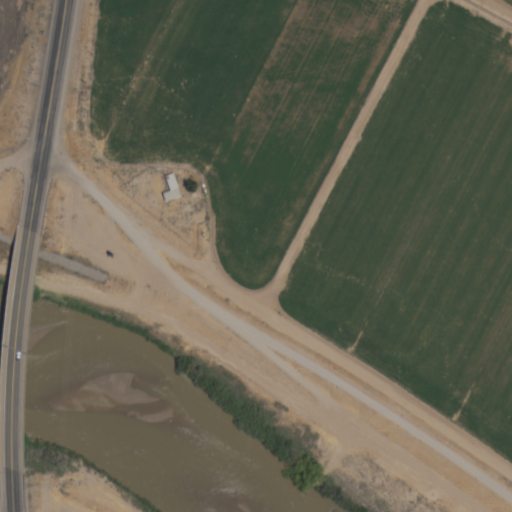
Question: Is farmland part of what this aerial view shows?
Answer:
Yes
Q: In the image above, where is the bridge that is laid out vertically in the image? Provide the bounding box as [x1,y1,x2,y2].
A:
[0,227,44,470]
